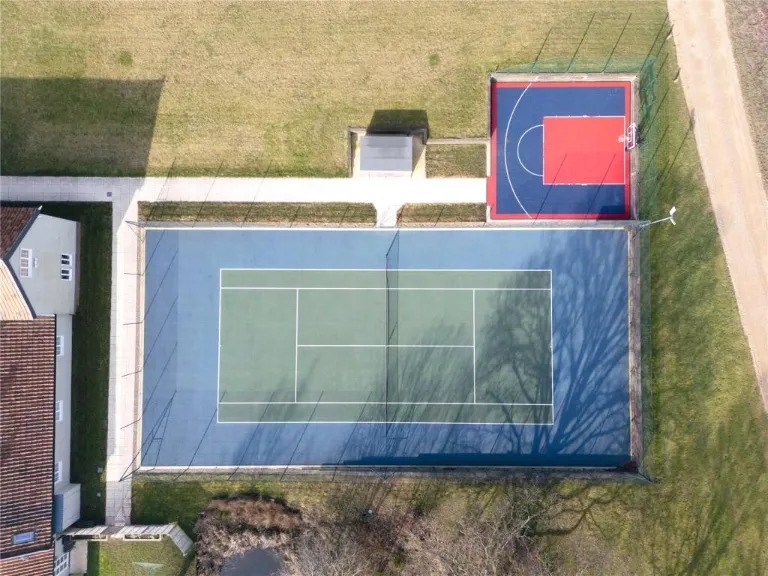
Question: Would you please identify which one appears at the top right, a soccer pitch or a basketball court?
basketball court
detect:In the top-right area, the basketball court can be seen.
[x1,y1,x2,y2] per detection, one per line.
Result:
[486,81,634,219]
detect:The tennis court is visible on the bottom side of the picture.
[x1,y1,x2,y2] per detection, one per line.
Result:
[139,229,633,469]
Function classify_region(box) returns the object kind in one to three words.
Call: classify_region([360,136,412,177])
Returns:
shed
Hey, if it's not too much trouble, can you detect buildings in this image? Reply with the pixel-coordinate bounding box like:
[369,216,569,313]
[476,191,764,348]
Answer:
[0,207,81,576]
[360,136,412,177]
